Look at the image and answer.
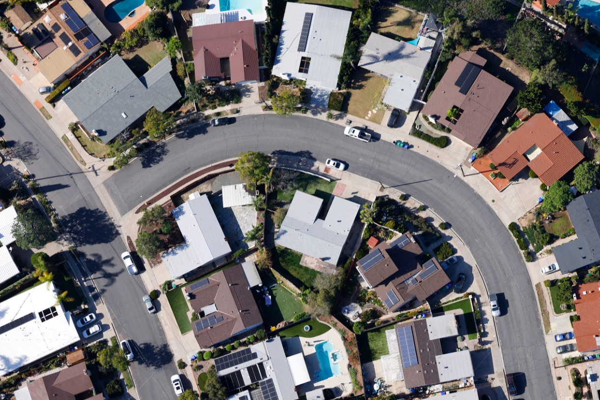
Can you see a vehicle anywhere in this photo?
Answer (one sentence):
Yes, there's a vehicle down there.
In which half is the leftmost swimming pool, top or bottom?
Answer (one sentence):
It is in the top half that the leftmost swimming pool appears.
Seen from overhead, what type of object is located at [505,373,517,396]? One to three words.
vehicle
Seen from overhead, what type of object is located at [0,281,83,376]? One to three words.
house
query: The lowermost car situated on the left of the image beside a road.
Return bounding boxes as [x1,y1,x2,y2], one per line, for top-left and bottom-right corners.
[170,375,185,398]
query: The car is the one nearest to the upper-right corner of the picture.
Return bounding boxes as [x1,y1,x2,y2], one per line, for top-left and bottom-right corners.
[386,109,401,129]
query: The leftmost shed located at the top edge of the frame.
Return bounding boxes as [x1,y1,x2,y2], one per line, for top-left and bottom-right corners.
[4,4,34,31]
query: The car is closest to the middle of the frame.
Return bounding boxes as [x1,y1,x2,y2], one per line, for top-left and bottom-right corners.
[325,158,345,171]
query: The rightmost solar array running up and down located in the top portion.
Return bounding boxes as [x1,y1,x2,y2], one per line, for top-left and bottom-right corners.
[298,12,313,51]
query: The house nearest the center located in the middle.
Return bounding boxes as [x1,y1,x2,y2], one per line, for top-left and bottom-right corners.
[276,191,361,266]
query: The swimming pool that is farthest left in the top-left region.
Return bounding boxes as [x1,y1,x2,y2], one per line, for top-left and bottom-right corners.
[103,0,146,23]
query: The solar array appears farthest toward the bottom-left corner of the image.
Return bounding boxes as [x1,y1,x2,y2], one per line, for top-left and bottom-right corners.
[0,314,35,334]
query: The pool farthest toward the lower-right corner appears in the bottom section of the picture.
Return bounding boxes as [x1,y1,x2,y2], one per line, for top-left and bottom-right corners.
[312,339,344,383]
